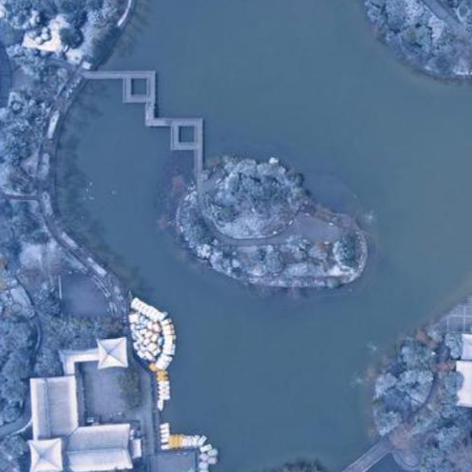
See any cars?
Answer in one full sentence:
No, I find no car anywhere in the image.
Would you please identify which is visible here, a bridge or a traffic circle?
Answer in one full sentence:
Visible in the photo is a bridge.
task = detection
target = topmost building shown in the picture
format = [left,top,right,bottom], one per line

[95,338,131,371]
